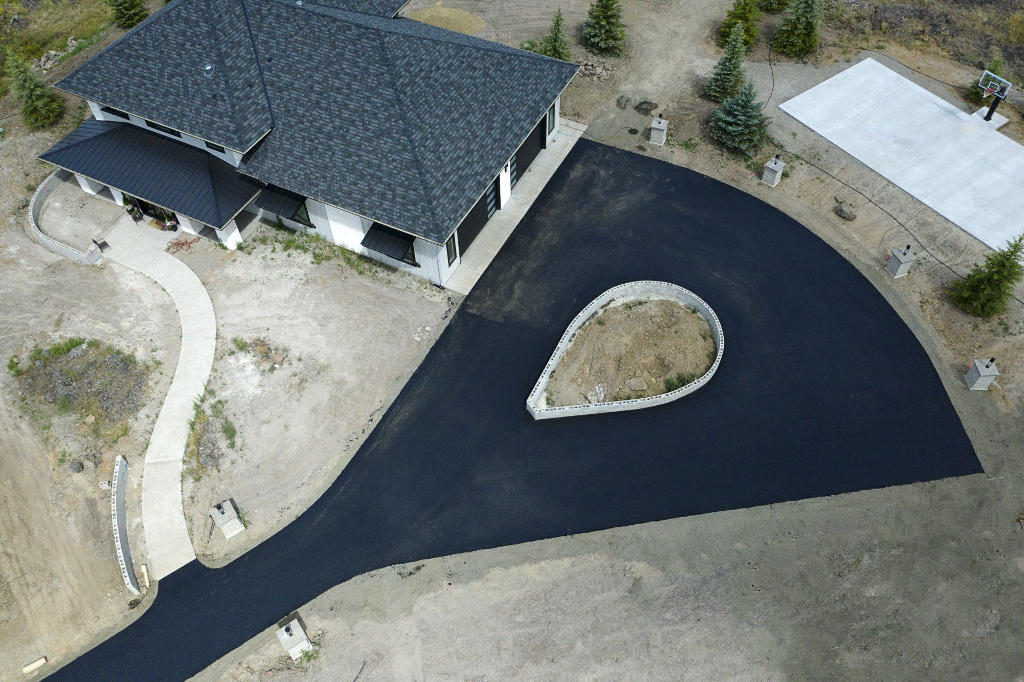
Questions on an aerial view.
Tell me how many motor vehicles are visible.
0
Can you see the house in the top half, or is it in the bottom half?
top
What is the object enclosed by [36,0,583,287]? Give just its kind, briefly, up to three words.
house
